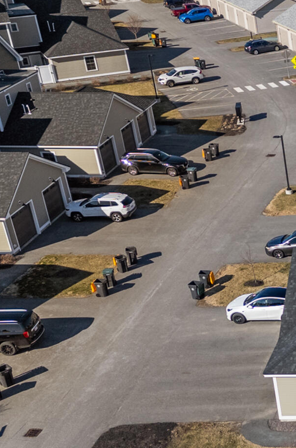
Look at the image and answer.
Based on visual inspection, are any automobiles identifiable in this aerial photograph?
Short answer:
Yes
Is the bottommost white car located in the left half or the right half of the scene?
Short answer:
right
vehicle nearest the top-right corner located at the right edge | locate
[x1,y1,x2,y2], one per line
[238,33,285,55]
